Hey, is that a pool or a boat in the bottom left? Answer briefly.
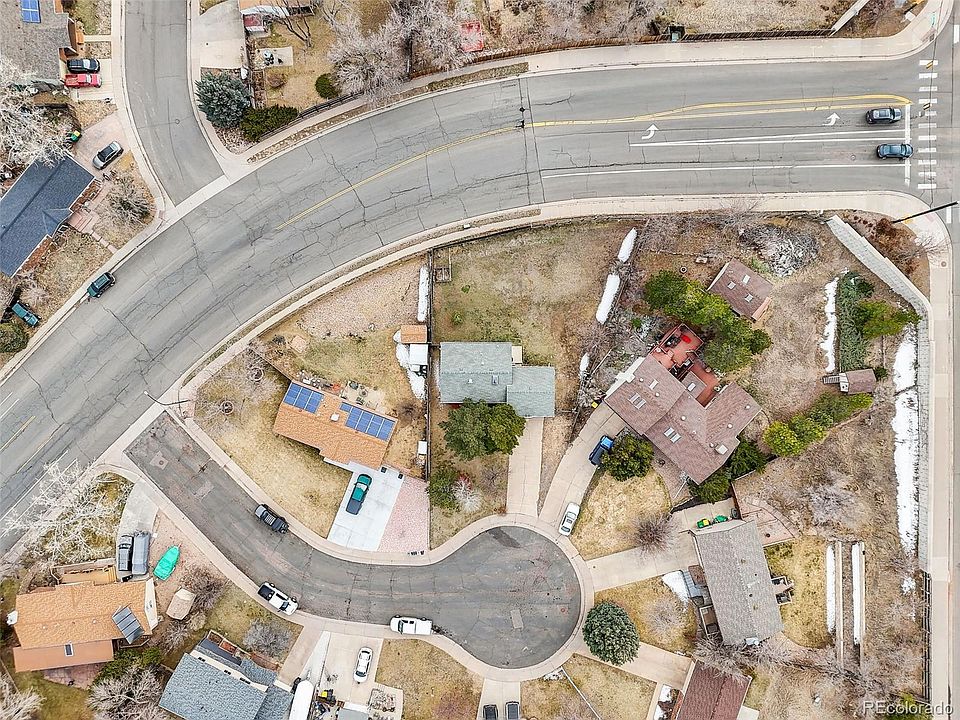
boat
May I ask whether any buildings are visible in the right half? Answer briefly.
Yes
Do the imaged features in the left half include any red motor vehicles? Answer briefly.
Yes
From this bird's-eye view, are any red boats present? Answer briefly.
No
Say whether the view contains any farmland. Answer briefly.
No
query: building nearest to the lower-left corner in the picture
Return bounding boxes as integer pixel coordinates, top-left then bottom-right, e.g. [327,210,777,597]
[3,576,160,672]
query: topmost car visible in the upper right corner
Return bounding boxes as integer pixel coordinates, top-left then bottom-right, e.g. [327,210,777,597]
[864,106,902,126]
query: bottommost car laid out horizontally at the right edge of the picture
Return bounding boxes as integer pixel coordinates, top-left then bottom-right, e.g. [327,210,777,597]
[875,142,912,160]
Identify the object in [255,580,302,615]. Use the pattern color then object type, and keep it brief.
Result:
white truck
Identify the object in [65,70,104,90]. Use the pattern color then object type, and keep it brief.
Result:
red vehicle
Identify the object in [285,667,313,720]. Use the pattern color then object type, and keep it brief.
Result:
white trailer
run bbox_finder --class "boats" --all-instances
[152,542,182,581]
